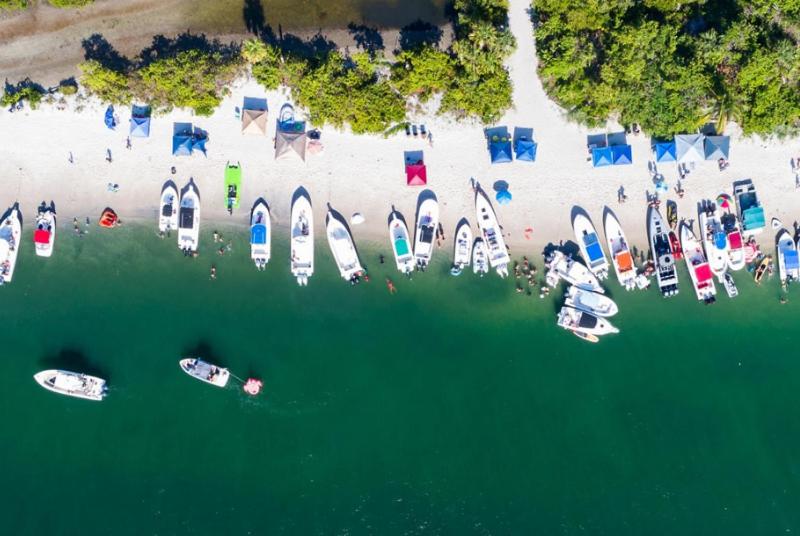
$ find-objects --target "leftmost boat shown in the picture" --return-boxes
[0,171,24,290]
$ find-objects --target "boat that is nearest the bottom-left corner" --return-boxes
[33,371,116,402]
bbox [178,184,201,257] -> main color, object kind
white boat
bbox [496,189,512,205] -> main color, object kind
blue umbrella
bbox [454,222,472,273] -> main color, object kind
white boat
